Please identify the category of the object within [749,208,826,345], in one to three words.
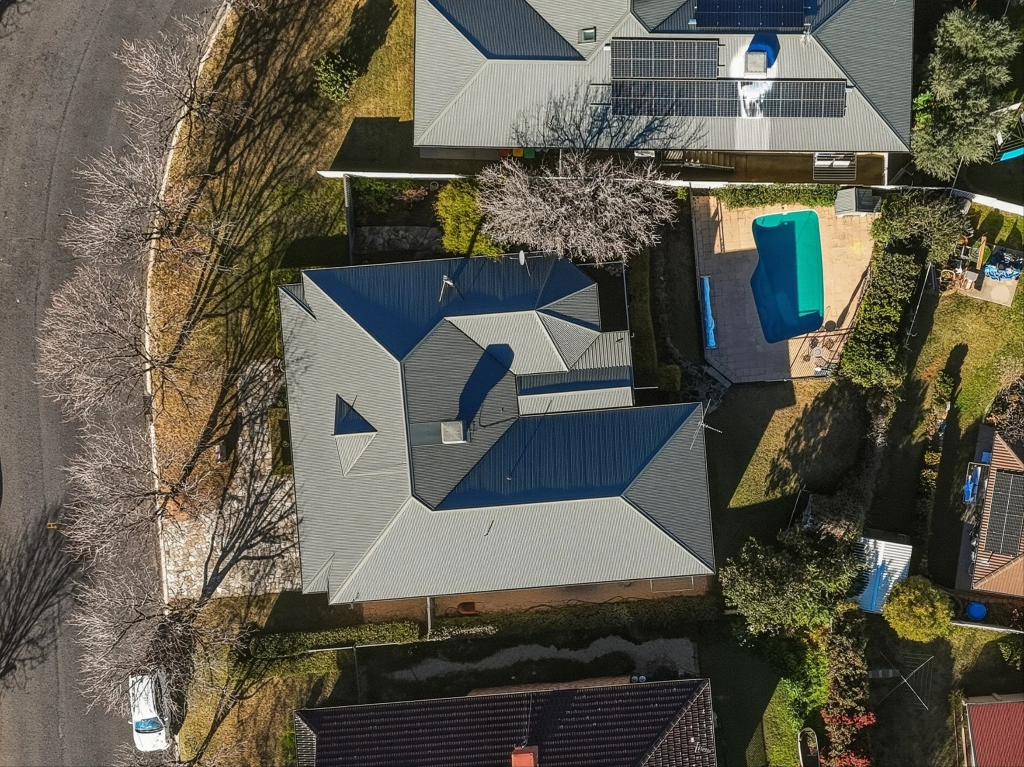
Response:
swimming pool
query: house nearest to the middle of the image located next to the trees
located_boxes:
[274,252,717,608]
